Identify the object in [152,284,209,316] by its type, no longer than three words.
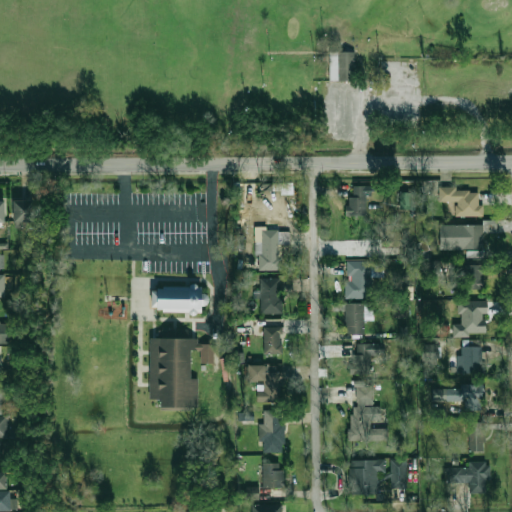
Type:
building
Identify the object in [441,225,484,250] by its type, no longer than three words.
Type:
house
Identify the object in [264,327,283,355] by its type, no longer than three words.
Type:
house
